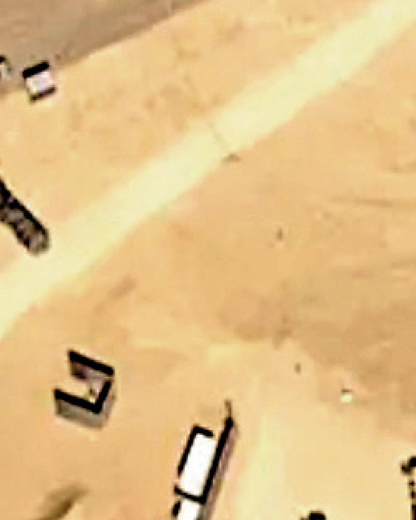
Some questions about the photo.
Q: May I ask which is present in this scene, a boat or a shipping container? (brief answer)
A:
shipping container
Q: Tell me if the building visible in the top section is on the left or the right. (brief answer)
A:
left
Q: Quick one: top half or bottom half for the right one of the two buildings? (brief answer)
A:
bottom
